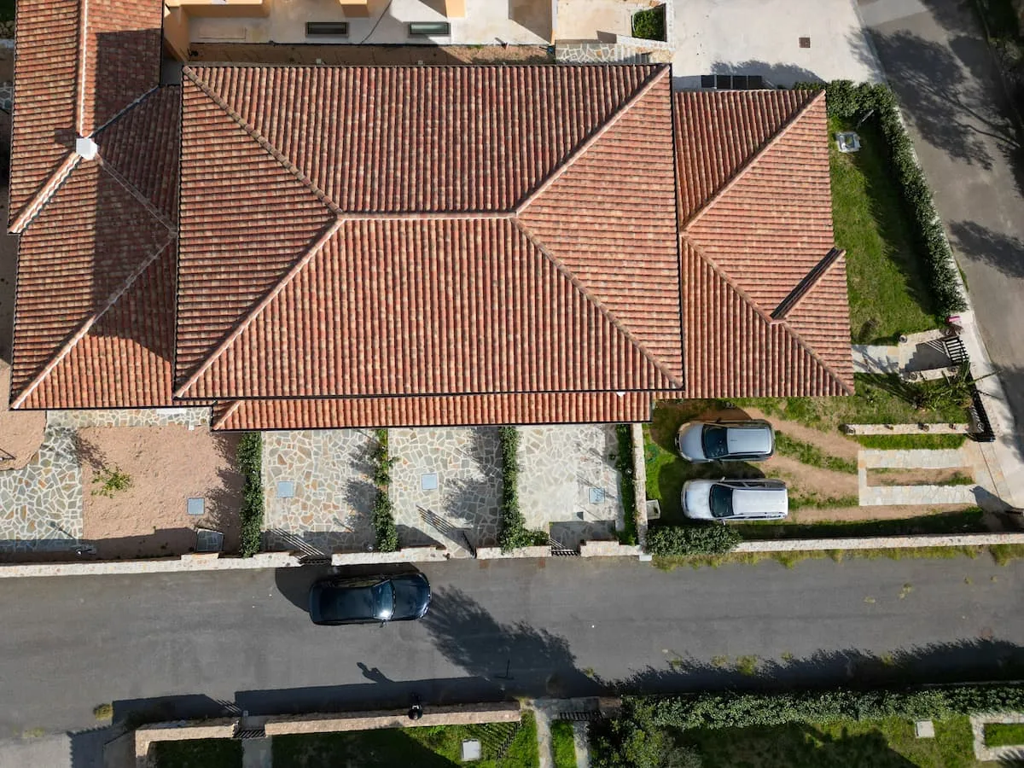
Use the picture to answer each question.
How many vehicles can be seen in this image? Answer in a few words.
3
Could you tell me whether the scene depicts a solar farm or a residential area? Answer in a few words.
residential area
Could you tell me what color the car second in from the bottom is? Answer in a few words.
white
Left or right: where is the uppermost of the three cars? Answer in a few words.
right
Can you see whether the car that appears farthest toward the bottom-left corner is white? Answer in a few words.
No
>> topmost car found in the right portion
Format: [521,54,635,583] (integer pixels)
[675,416,778,467]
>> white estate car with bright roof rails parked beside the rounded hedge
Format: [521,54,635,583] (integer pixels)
[679,473,793,527]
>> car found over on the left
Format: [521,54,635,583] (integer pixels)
[310,572,433,629]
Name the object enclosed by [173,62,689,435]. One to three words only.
house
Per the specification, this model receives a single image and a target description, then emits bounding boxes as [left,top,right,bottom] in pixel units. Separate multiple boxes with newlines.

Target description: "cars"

[679,473,793,527]
[310,572,433,629]
[675,416,778,467]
